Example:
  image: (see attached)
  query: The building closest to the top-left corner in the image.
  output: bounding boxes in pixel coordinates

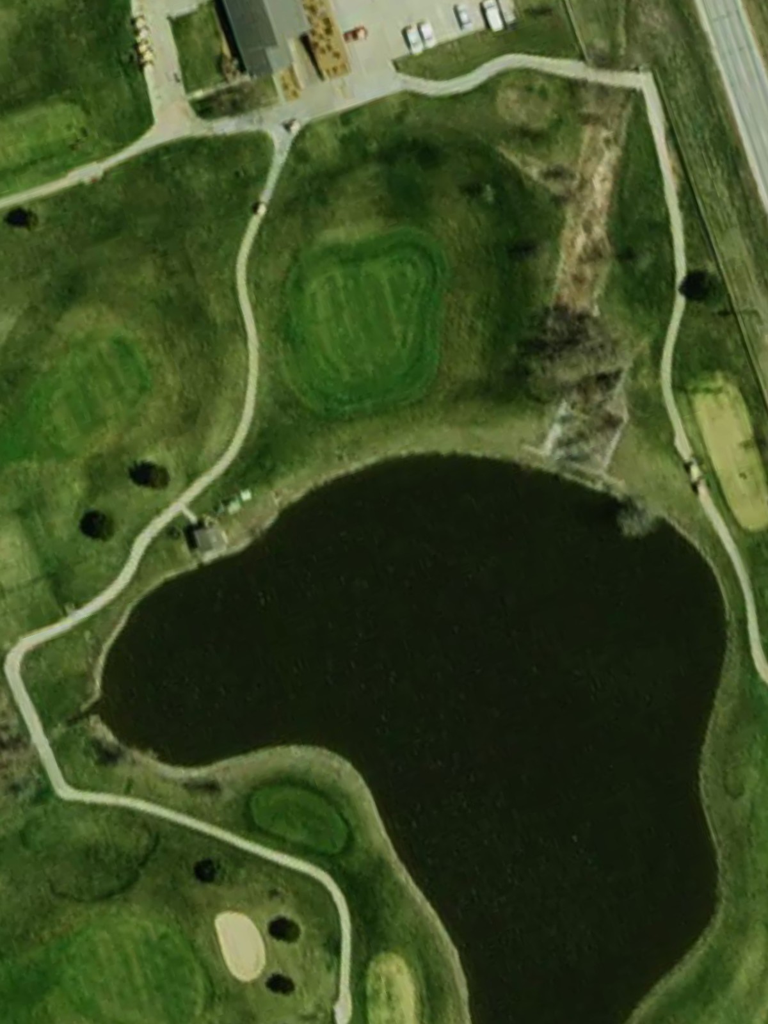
[222,0,306,75]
